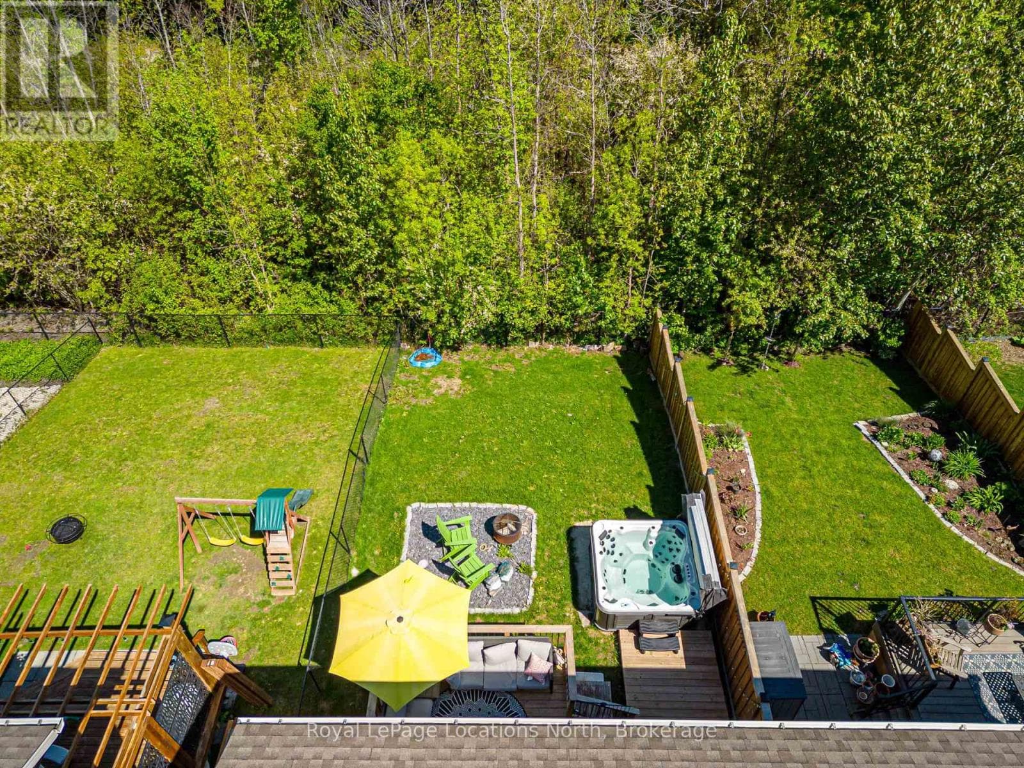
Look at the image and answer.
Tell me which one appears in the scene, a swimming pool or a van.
swimming pool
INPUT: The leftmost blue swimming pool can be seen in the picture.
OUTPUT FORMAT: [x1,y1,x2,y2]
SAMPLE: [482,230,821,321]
[409,344,444,368]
